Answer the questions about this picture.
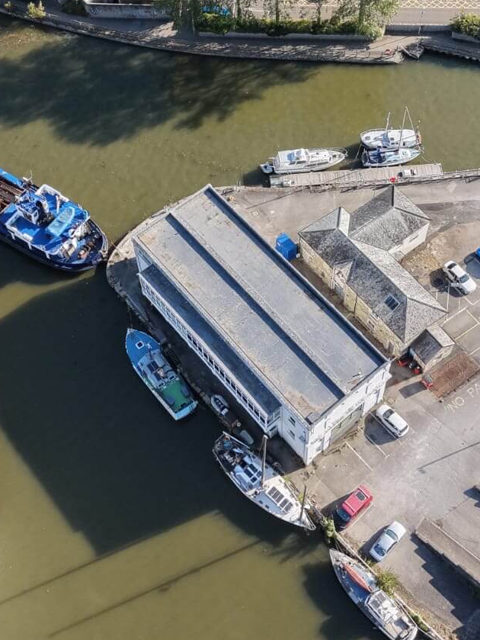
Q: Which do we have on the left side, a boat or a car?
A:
boat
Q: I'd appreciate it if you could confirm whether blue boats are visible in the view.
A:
Yes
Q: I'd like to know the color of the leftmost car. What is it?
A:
red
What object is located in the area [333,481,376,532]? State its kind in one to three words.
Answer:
car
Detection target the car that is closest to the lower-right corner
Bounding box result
[368,514,410,567]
